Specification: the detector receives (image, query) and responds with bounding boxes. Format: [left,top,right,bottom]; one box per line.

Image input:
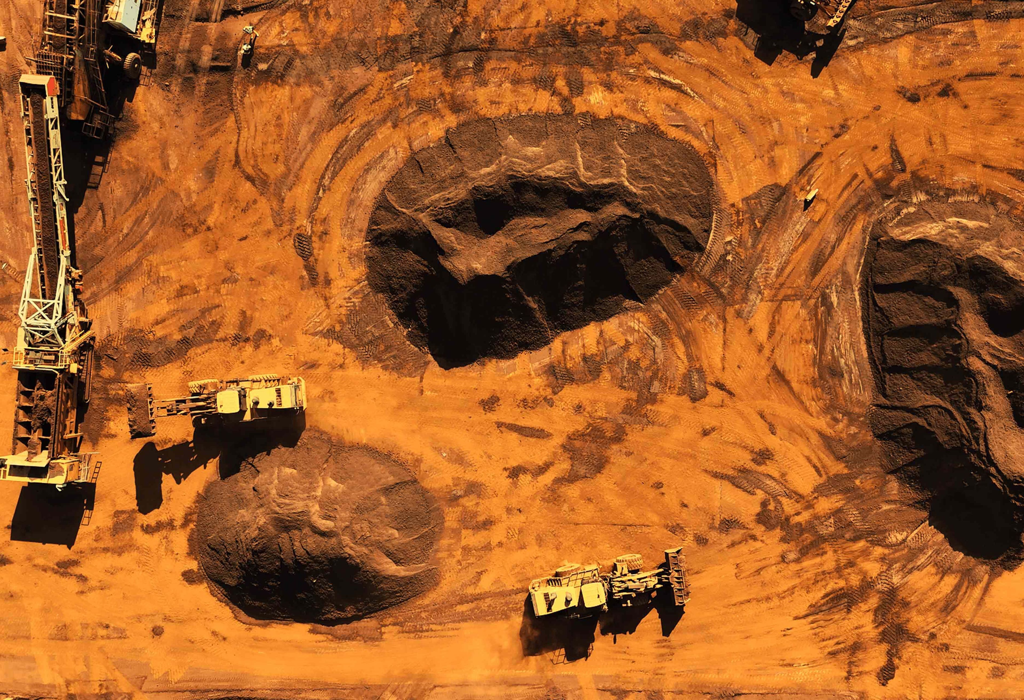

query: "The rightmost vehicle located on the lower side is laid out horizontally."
[523,540,693,617]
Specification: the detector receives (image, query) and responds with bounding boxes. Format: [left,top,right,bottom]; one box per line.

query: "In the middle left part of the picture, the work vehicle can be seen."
[117,372,310,438]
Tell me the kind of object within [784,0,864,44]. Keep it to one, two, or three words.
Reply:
work vehicle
